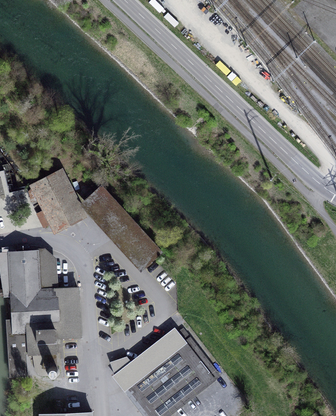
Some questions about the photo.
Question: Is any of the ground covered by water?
Yes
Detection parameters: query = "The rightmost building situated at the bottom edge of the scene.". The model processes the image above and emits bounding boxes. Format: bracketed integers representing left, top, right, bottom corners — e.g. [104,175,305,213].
[112,328,217,416]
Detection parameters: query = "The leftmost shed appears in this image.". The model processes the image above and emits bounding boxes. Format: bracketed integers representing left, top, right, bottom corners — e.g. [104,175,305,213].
[6,320,27,378]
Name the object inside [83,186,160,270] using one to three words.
barn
